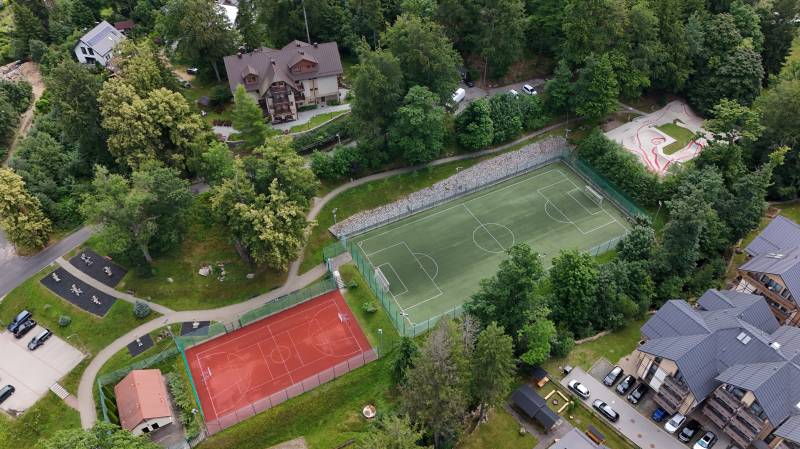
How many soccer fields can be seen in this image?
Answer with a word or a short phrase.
1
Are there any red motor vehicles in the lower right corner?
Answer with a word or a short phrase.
No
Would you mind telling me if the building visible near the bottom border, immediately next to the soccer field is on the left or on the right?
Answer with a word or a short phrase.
right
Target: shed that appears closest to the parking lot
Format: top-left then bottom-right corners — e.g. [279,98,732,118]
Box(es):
[112,366,175,436]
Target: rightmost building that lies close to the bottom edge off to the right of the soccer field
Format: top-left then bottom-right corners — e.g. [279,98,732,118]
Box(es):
[637,288,800,449]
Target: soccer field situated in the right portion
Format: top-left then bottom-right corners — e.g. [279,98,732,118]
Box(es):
[339,159,638,339]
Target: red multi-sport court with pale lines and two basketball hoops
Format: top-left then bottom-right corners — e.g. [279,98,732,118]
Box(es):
[185,288,378,434]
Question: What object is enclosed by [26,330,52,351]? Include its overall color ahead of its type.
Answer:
gray car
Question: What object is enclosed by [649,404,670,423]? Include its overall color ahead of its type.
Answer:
blue car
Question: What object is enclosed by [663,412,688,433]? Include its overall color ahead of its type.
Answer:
white car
